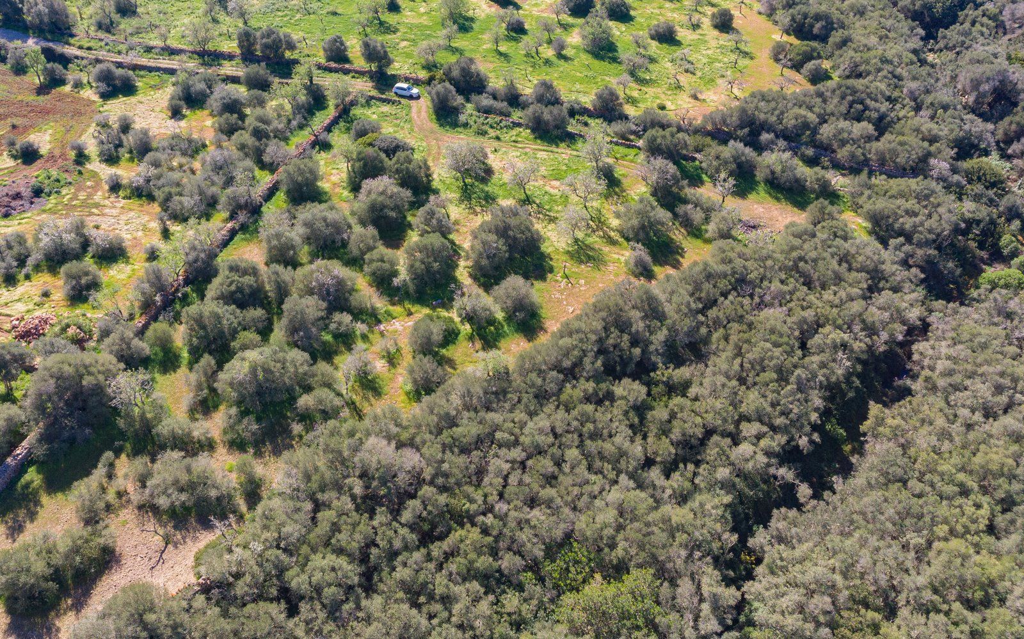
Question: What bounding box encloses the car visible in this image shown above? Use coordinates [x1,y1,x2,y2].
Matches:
[391,80,419,97]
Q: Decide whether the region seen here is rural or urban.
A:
rural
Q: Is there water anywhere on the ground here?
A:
No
